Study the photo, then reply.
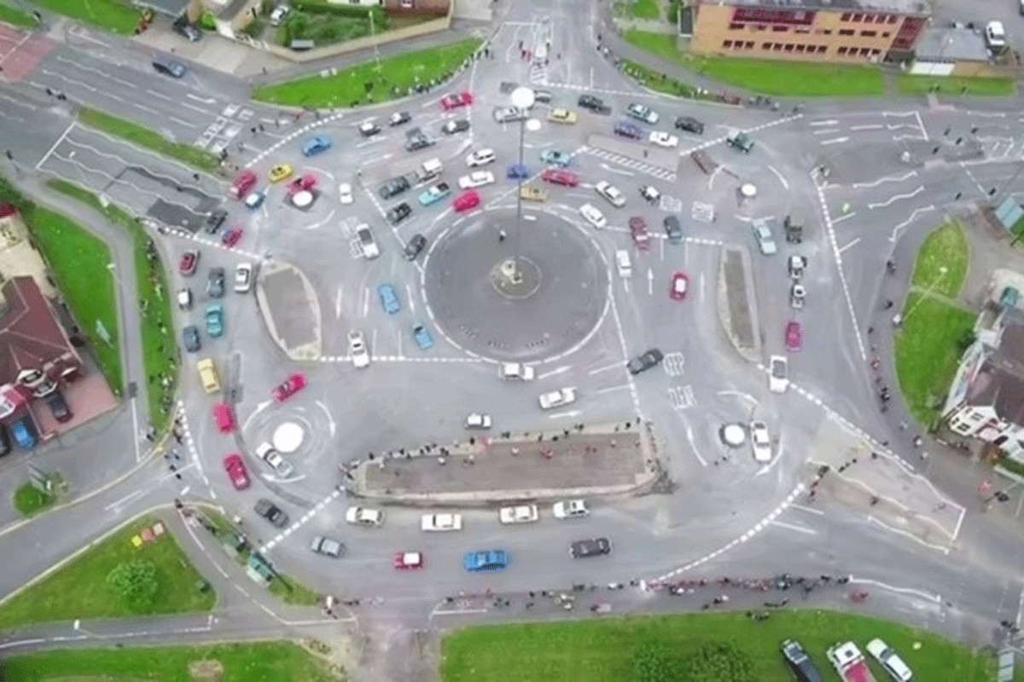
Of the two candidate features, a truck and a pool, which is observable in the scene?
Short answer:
truck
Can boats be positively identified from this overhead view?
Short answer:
No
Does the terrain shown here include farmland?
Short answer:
No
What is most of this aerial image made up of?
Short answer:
paved ground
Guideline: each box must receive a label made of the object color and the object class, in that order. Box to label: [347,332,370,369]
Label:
white car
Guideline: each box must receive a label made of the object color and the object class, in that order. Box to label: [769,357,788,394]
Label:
white vehicle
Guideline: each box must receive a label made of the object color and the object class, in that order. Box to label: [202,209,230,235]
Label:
gray car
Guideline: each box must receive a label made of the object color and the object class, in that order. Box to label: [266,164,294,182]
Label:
yellow car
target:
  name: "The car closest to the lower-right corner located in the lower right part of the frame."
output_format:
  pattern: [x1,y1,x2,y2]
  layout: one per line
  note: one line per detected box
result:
[865,636,915,682]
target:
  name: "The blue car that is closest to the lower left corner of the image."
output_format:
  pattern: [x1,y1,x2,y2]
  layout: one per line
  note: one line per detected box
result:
[7,414,40,449]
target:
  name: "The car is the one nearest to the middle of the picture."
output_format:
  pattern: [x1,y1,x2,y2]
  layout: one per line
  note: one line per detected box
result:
[497,364,535,381]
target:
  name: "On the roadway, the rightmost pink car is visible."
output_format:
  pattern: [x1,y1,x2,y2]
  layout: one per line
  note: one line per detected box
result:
[785,322,803,352]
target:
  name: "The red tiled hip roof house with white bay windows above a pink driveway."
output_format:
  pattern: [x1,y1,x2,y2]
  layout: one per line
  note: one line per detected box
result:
[0,275,91,424]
